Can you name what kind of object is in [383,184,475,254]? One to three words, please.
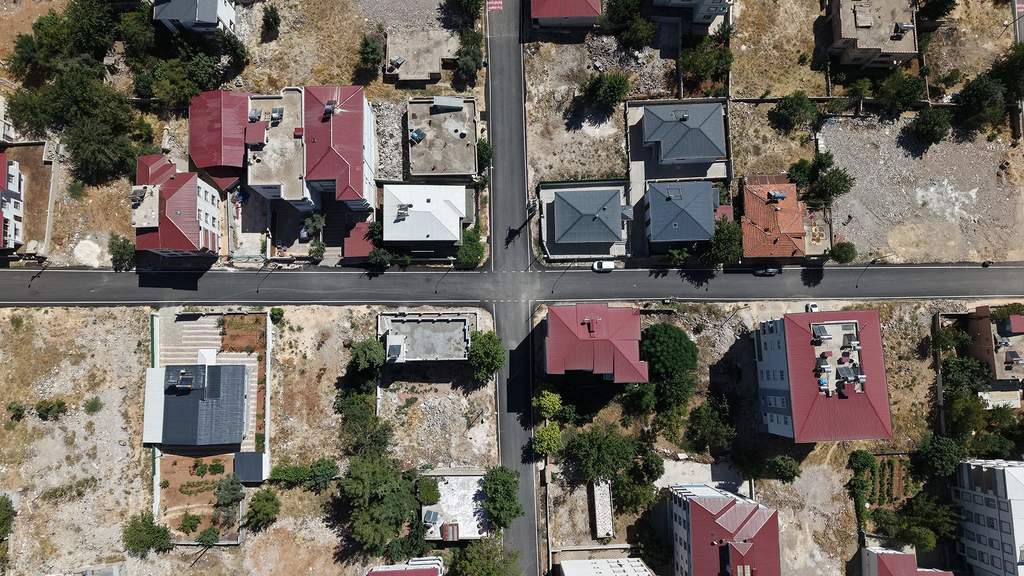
house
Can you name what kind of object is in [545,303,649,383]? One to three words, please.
building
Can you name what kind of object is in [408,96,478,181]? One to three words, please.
house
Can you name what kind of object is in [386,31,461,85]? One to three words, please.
building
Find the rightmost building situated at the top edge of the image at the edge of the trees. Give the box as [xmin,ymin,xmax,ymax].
[825,0,919,69]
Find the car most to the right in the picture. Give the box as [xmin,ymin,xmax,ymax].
[806,300,819,313]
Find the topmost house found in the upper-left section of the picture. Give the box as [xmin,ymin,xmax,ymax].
[153,0,234,42]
